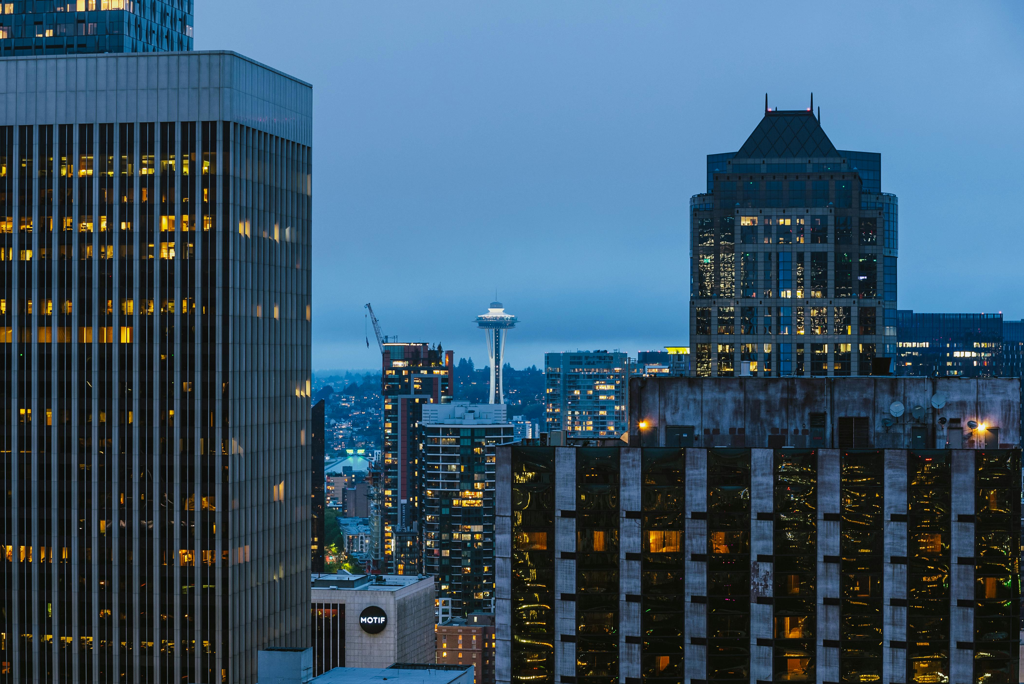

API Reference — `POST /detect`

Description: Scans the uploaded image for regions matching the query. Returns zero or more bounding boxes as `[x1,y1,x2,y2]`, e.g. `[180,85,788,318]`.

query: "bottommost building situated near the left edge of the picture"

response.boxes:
[0,50,315,684]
